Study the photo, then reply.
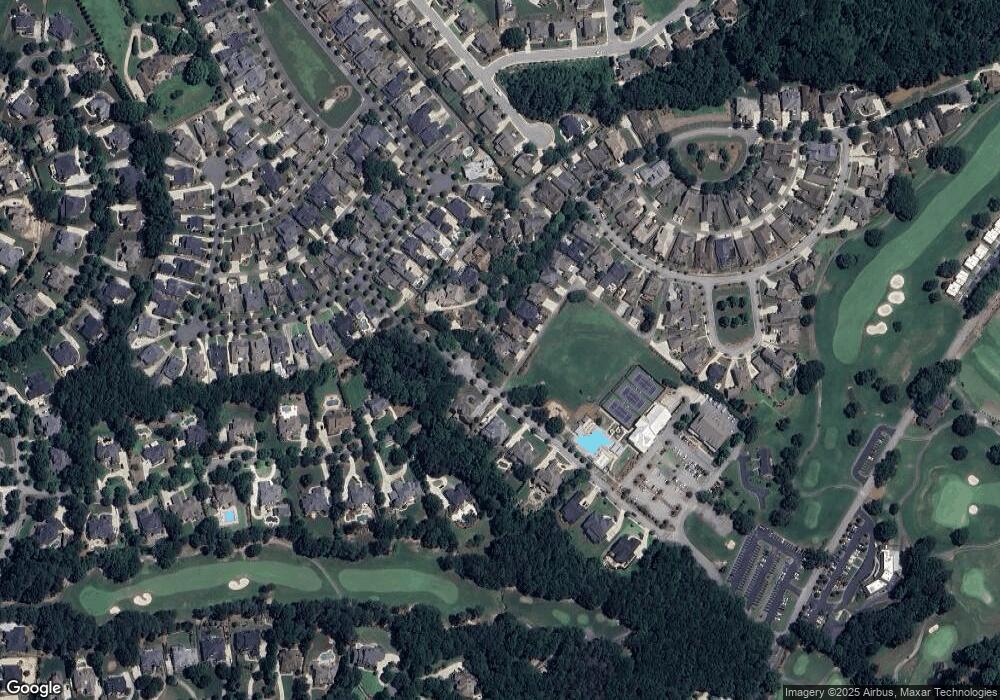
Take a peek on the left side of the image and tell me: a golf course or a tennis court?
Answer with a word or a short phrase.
golf course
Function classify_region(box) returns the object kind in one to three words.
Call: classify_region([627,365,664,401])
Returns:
tennis court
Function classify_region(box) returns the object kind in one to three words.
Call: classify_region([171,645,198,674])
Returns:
house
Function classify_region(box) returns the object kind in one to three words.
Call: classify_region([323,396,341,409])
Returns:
swimming pool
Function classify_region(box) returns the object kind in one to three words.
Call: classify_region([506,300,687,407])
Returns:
sports field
